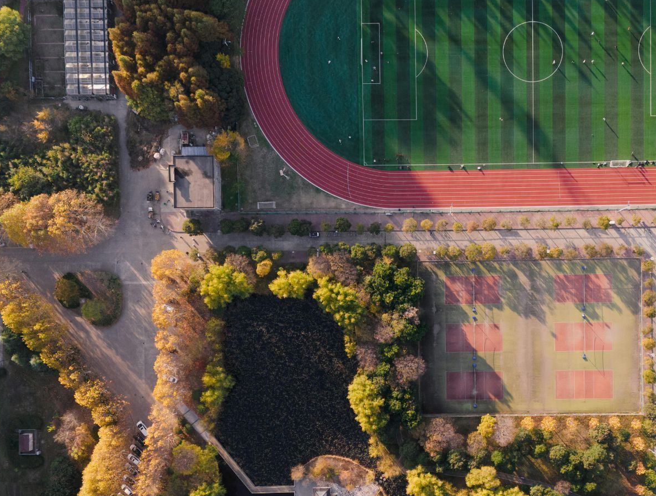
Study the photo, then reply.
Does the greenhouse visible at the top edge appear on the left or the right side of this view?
left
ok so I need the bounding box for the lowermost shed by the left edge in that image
[14,431,38,457]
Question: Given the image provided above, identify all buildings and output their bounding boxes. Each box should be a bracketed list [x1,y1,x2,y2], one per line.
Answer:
[312,484,338,496]
[167,156,221,209]
[14,431,38,457]
[64,0,116,98]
